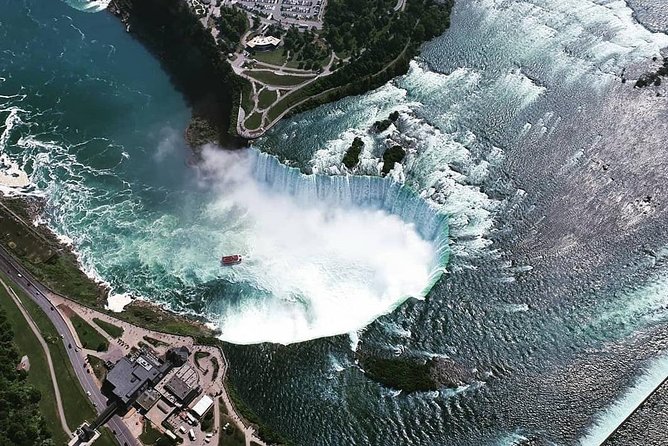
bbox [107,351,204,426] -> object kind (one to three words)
building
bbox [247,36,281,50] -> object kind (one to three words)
building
